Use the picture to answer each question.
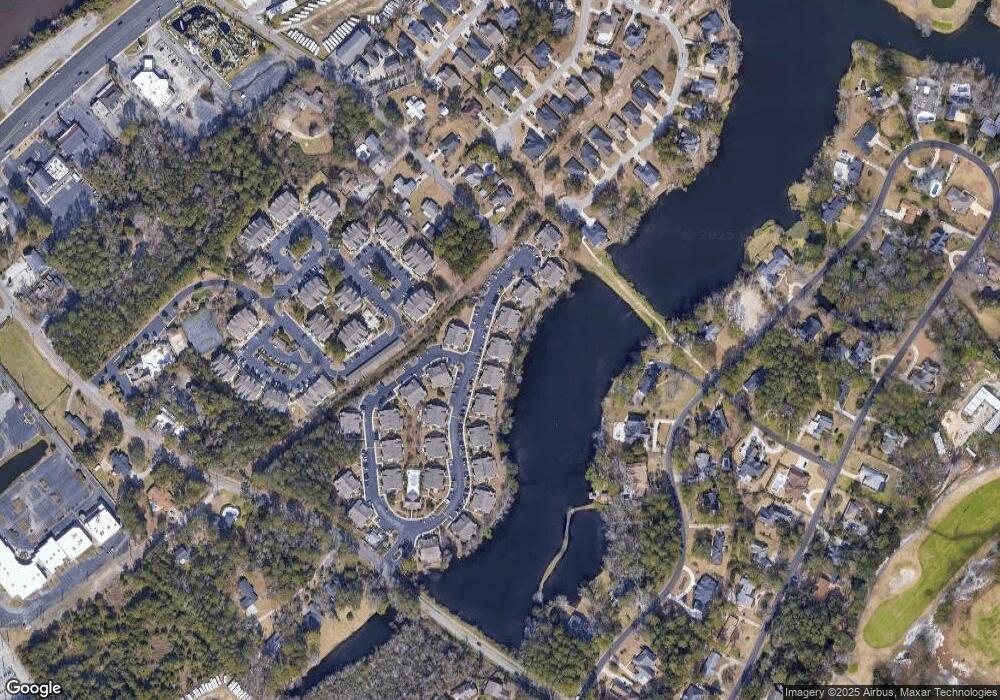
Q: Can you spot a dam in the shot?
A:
Yes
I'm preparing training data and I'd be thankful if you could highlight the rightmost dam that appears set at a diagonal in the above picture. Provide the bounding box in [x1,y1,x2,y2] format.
[593,258,676,348]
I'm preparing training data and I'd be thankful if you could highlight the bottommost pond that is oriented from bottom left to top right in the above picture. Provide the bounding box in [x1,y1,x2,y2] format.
[286,608,396,699]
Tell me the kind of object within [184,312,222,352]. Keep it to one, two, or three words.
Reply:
tennis court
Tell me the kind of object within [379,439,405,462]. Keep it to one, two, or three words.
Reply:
building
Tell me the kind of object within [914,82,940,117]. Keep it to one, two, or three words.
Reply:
house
